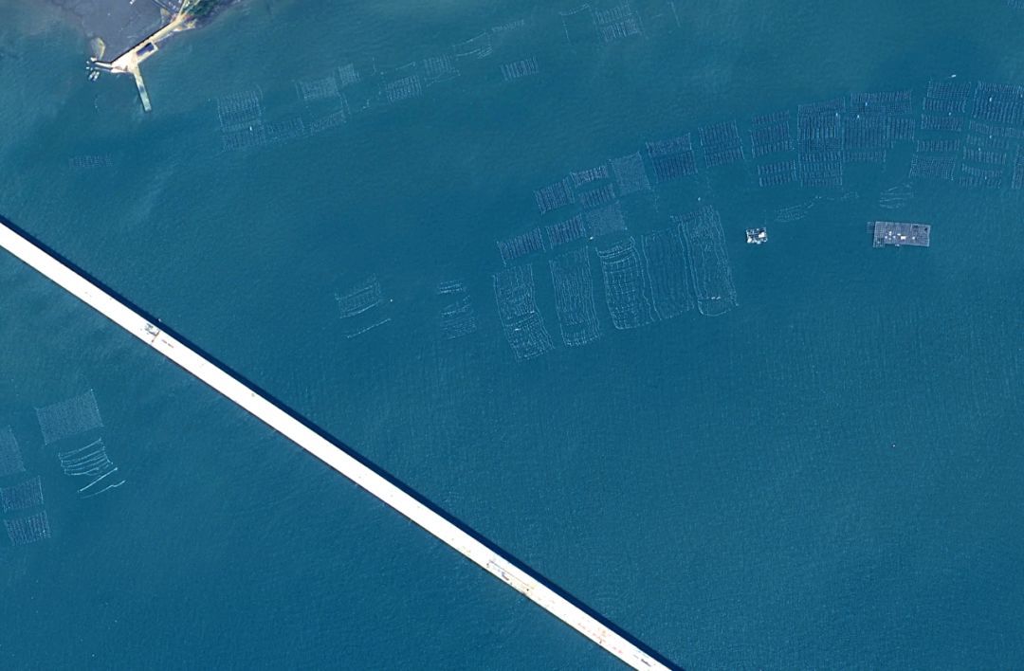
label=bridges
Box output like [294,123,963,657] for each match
[0,222,671,671]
